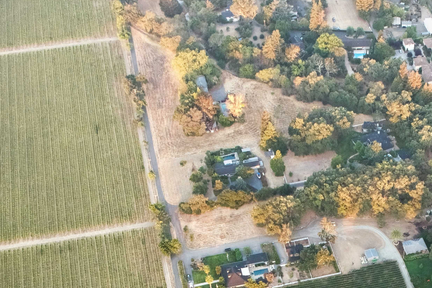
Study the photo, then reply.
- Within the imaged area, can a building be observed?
Yes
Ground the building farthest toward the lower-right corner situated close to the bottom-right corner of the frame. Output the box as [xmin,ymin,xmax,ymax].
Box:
[400,238,429,256]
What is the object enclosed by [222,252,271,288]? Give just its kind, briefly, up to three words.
house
